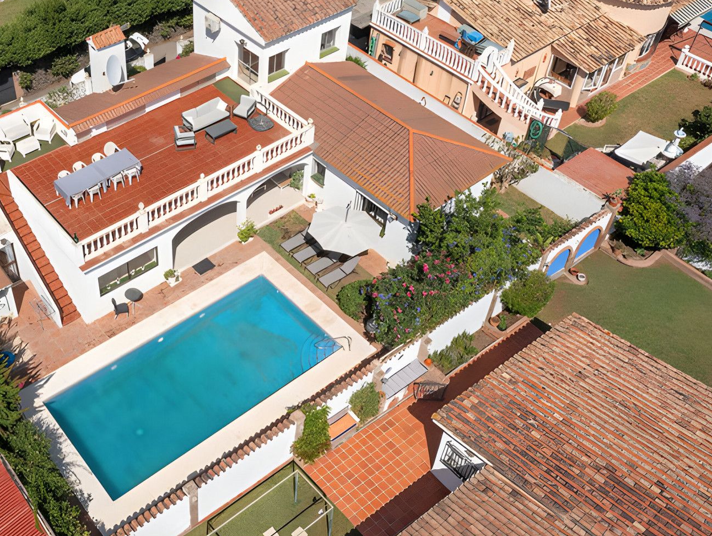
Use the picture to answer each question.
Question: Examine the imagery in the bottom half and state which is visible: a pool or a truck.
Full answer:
What appears in the bottom half is a pool.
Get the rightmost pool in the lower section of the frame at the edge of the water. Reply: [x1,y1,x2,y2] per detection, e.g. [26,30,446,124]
[43,274,341,500]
